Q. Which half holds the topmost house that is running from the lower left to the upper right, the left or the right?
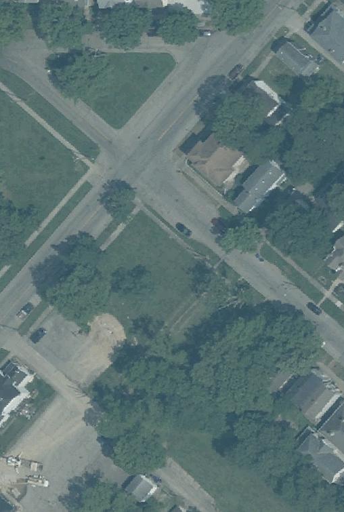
right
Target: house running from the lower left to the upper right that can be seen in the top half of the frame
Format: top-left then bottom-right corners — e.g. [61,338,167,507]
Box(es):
[237,161,287,208]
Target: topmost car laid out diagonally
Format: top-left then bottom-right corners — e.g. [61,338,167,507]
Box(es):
[228,64,243,81]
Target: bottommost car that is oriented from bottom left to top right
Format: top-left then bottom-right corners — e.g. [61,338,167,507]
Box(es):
[30,328,47,343]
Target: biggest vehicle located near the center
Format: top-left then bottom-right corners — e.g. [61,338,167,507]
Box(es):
[176,222,193,236]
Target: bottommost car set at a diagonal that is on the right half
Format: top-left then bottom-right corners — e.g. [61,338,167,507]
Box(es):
[306,301,322,316]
